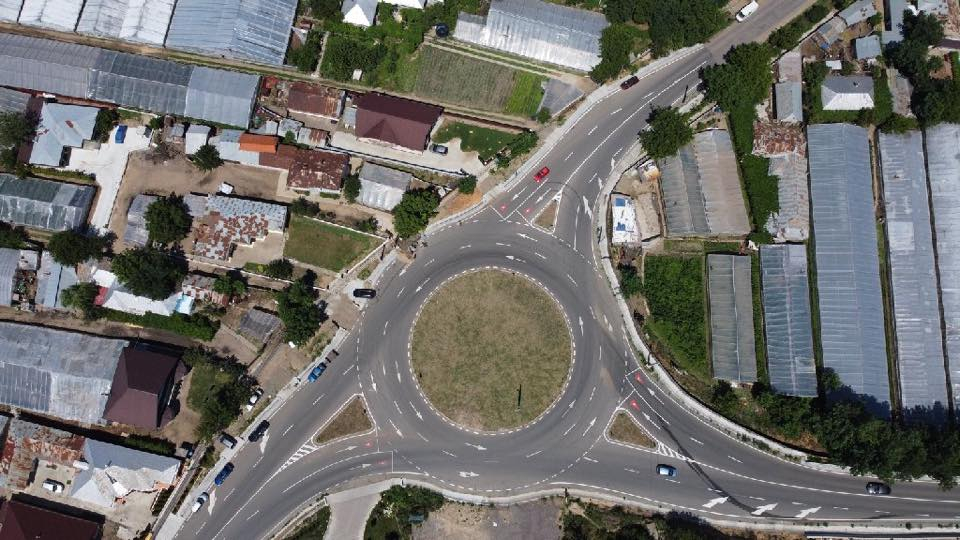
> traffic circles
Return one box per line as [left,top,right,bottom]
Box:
[361,219,623,482]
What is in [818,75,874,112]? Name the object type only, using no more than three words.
house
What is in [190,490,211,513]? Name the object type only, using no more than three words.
car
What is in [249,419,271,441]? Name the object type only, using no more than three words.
car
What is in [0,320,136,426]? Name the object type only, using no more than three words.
greenhouse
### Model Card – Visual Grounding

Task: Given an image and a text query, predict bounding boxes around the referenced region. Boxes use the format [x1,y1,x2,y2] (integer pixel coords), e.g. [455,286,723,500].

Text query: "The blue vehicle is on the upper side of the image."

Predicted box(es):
[114,125,128,144]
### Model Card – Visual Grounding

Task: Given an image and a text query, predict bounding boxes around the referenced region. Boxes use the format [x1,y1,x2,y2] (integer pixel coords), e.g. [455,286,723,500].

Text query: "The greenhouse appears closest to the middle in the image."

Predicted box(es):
[355,161,412,211]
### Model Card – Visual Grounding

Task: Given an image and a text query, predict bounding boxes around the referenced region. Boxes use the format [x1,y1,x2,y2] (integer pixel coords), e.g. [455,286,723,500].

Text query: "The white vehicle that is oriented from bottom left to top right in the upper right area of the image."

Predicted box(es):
[734,0,761,22]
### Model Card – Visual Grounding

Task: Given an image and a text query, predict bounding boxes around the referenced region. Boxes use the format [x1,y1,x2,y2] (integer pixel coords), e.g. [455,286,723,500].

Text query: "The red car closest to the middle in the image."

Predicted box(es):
[532,165,551,183]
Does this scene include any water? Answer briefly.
No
